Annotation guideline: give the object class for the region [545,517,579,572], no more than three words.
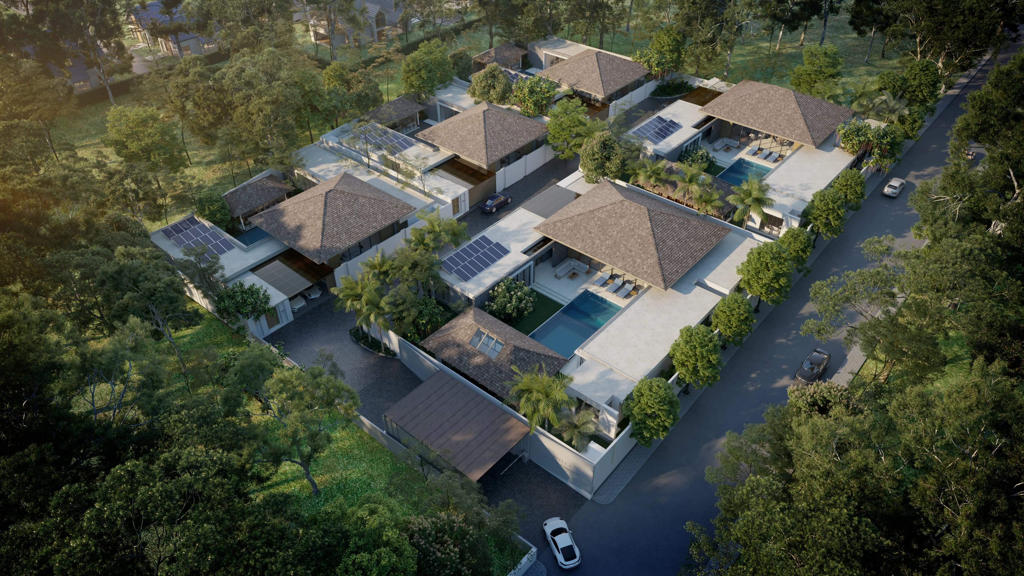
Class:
car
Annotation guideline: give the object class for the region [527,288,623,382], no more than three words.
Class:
swimming pool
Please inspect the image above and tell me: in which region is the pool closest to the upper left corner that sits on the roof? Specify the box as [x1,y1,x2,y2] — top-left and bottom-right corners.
[235,226,266,244]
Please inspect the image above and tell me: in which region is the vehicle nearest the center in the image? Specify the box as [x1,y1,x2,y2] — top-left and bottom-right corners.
[481,192,511,212]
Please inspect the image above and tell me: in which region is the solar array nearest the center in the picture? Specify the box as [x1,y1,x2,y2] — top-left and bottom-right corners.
[439,235,510,283]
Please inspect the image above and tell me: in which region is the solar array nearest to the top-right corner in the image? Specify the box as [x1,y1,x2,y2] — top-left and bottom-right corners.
[632,115,684,144]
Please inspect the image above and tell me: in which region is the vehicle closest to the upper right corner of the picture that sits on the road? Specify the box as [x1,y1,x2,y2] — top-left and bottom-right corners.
[883,179,905,197]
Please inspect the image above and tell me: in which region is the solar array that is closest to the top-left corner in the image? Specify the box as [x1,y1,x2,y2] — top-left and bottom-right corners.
[159,216,235,261]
